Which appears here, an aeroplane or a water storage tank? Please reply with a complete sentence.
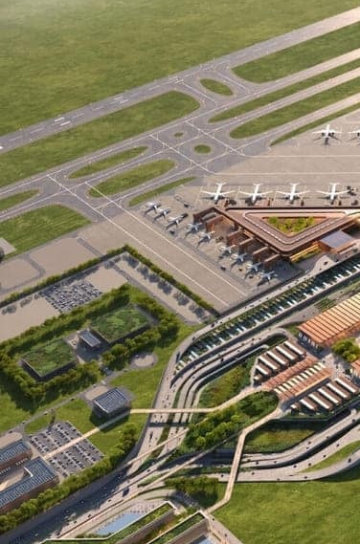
Looking from above, you can make out an aeroplane.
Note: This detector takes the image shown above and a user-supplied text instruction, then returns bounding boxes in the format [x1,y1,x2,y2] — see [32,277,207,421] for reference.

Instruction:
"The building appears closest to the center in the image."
[90,305,154,347]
